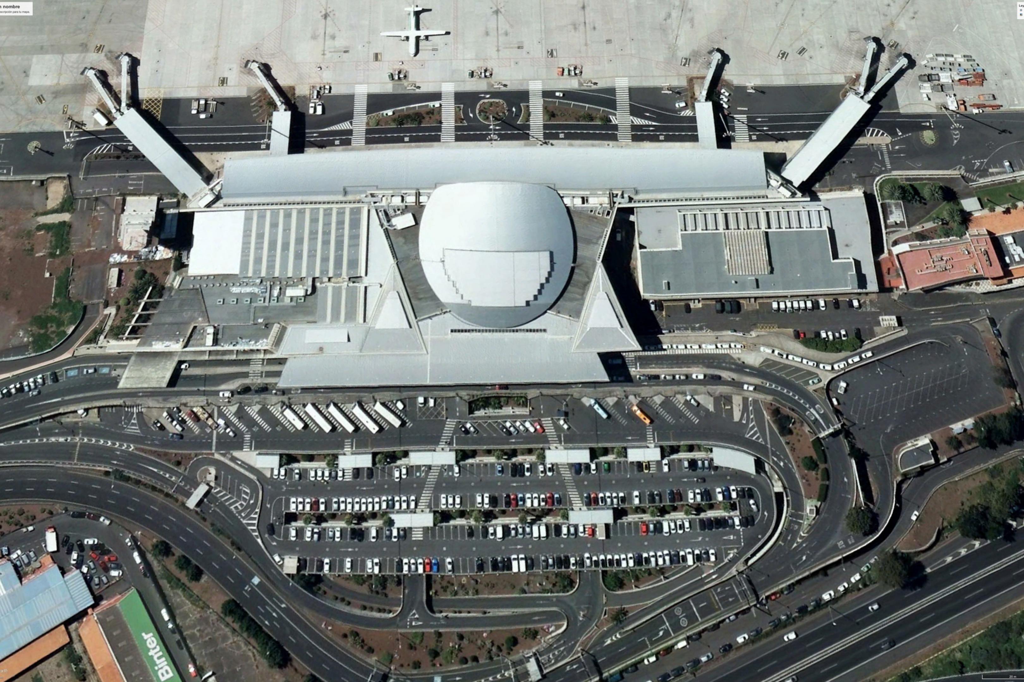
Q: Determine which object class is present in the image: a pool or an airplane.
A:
airplane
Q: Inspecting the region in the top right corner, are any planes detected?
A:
No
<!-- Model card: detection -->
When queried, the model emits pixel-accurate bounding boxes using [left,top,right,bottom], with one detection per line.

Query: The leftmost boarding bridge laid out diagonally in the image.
[77,63,123,118]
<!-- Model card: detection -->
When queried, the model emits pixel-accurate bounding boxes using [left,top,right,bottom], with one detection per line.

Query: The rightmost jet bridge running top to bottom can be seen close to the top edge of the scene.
[855,31,878,93]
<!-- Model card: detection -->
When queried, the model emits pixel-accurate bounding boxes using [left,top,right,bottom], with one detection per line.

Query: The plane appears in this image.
[381,6,446,56]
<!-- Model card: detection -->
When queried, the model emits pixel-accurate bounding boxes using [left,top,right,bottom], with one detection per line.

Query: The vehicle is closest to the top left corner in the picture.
[93,109,109,126]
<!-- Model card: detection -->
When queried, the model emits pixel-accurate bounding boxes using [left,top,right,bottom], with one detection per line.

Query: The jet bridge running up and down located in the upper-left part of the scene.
[112,47,135,112]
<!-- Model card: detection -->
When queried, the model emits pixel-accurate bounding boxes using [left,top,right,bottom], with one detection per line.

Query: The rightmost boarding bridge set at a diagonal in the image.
[860,46,909,101]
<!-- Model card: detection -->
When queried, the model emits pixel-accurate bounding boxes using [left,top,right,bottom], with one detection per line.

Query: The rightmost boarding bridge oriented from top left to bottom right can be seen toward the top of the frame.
[239,53,288,111]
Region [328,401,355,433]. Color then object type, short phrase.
white bus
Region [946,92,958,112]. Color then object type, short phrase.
white vehicle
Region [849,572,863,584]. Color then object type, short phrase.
white vehicle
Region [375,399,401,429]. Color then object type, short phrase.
white bus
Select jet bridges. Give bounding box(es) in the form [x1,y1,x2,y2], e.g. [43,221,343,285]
[112,47,135,112]
[77,63,123,118]
[860,46,909,101]
[855,31,878,93]
[239,53,288,111]
[698,43,723,101]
